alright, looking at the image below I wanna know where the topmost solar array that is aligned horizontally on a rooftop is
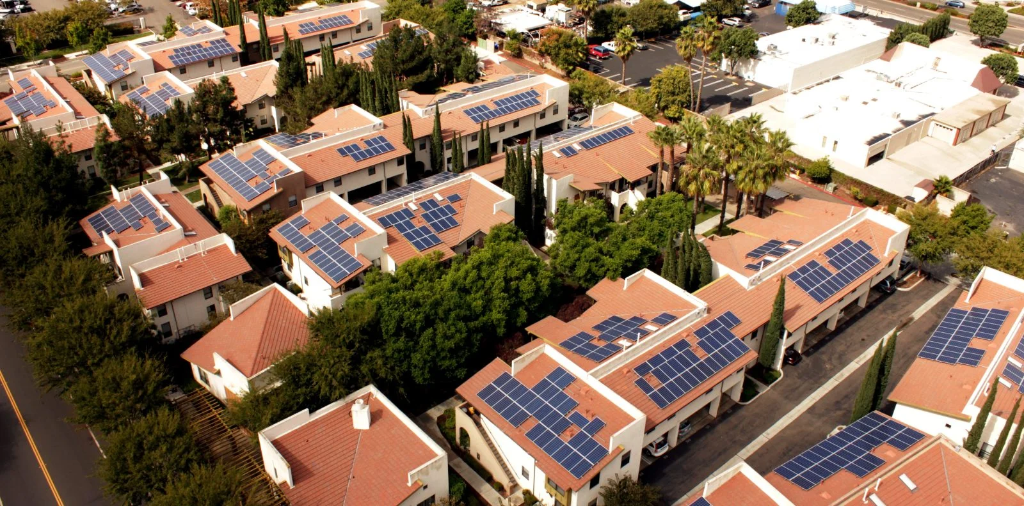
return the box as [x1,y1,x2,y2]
[297,12,353,33]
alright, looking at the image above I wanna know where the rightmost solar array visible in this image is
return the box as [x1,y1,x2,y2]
[919,307,1021,366]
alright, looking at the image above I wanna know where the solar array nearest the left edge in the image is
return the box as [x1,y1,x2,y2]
[0,81,72,120]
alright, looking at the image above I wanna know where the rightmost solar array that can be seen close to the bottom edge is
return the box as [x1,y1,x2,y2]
[774,414,925,489]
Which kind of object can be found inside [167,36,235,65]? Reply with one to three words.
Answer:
solar array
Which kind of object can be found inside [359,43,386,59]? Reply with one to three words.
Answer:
solar array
